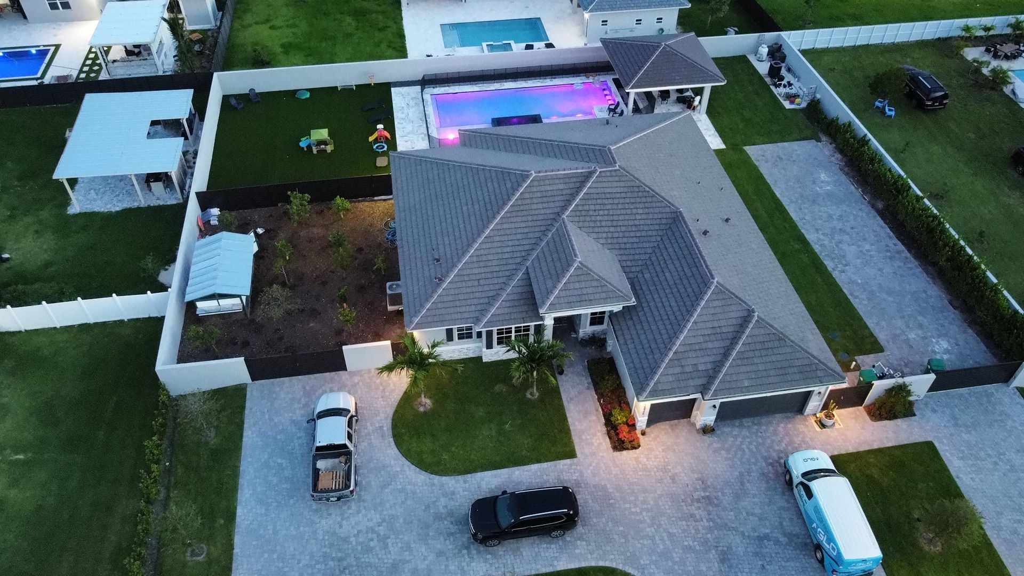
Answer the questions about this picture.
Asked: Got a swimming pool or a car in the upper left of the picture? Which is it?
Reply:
swimming pool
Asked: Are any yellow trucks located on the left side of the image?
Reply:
No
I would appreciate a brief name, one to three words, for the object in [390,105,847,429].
house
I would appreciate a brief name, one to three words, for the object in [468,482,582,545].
car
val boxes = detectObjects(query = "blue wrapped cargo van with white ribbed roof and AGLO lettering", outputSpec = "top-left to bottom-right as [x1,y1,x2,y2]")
[786,451,880,576]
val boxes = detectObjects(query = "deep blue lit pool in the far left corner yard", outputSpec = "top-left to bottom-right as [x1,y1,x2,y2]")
[0,41,64,86]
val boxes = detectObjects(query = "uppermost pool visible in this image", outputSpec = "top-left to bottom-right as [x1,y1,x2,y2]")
[440,18,548,53]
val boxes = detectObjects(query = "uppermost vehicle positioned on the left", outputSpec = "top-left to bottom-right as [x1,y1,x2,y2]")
[306,393,360,511]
